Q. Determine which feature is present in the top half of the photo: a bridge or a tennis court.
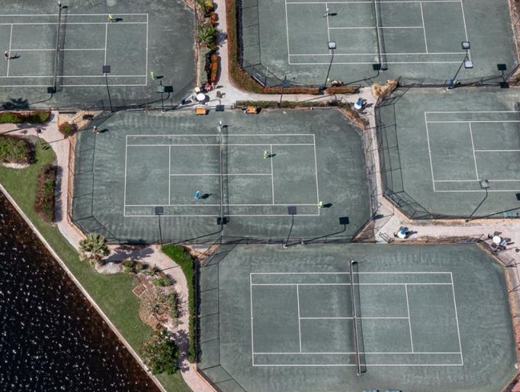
tennis court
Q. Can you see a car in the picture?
No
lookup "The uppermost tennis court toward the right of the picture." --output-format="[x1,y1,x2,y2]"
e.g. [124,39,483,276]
[238,0,520,87]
